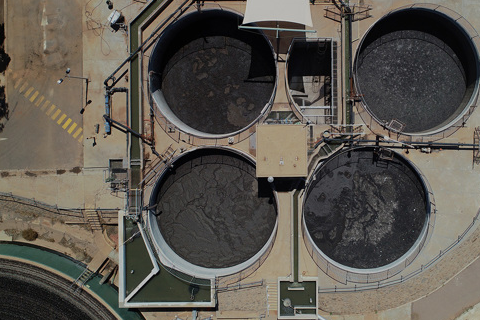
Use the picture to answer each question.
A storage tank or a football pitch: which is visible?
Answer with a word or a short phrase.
storage tank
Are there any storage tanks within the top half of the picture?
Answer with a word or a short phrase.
Yes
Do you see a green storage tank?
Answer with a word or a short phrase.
No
